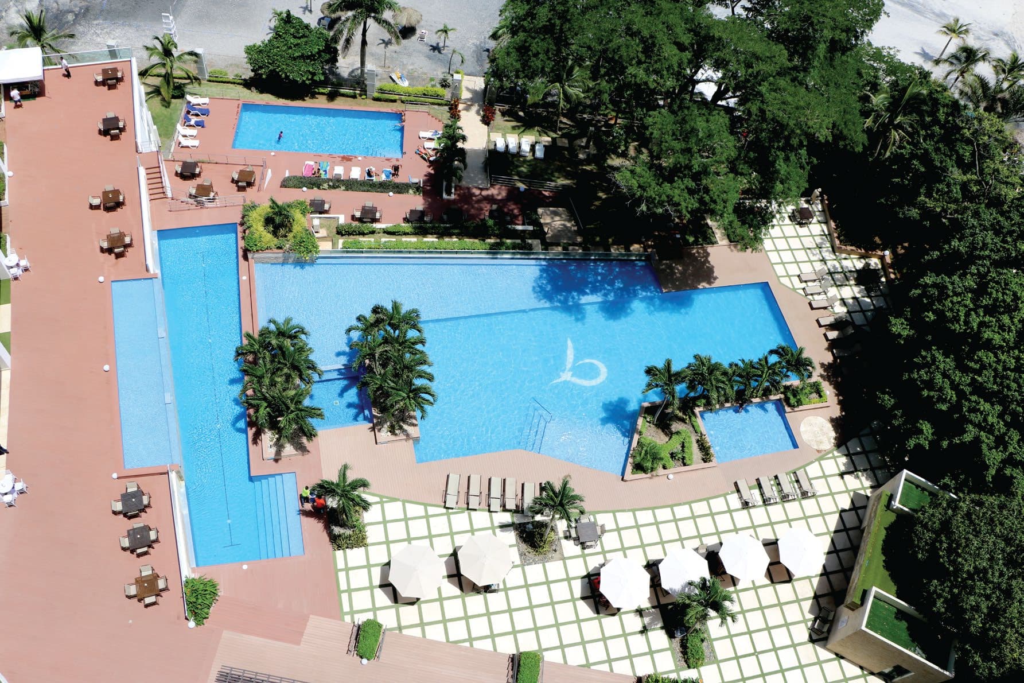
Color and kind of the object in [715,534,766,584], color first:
white umbrella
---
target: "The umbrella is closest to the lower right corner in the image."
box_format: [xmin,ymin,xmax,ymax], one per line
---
[773,531,822,580]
